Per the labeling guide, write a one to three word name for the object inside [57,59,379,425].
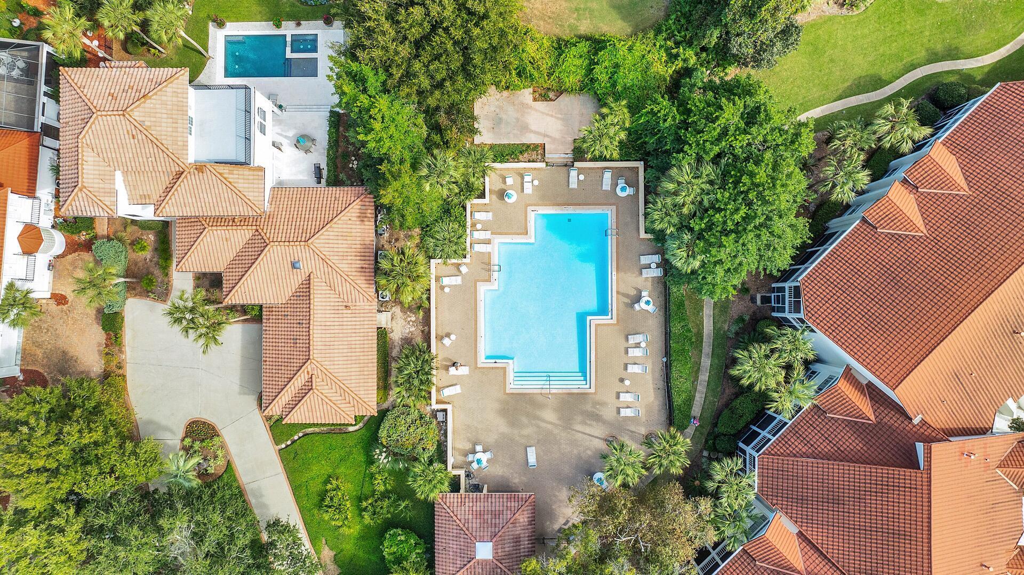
house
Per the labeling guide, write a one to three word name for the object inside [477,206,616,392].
swimming pool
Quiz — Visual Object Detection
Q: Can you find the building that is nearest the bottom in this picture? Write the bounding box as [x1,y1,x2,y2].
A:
[434,489,536,575]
